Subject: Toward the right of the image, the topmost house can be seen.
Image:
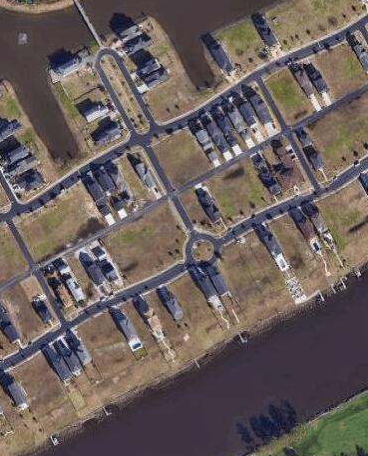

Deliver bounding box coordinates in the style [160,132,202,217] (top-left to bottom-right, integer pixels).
[257,18,280,48]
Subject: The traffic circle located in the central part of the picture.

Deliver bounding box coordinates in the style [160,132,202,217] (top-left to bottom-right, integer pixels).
[183,230,224,269]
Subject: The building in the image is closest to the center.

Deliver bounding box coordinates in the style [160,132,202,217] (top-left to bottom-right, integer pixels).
[199,190,222,224]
